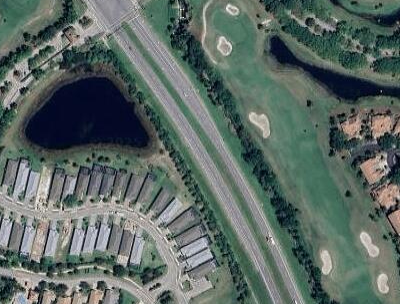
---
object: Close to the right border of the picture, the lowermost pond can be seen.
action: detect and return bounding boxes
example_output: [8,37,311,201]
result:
[268,35,400,103]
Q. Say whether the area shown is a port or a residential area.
residential area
